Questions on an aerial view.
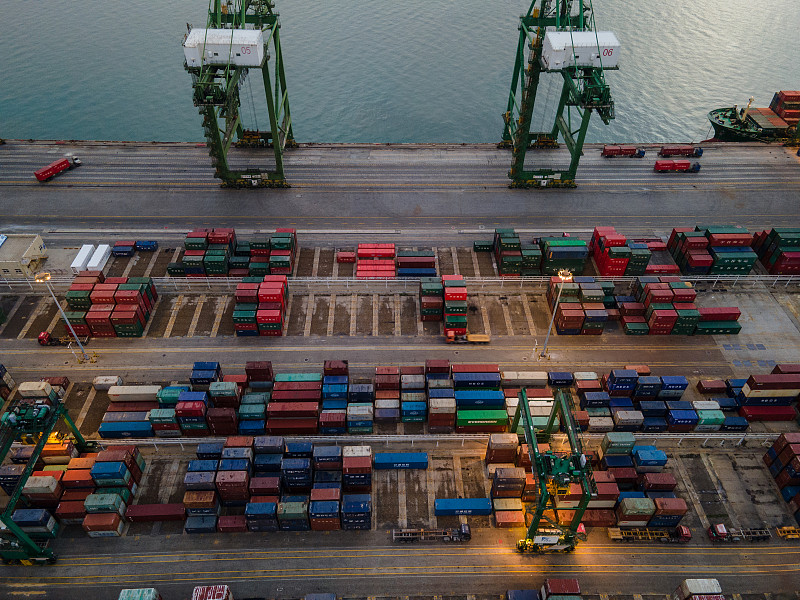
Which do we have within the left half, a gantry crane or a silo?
gantry crane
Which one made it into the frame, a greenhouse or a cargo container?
cargo container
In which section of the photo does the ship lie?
top right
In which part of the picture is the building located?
left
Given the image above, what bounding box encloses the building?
[0,234,52,278]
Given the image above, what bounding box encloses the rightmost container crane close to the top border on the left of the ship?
[495,0,623,187]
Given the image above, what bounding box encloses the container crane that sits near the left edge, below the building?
[0,391,109,559]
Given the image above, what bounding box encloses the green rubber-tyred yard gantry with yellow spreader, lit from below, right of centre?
[495,388,597,550]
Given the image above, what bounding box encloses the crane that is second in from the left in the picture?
[181,0,299,186]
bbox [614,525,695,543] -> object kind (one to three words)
vehicle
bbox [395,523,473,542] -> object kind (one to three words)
vehicle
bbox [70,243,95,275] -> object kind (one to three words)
shipping container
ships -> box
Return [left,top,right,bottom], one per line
[701,88,800,144]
